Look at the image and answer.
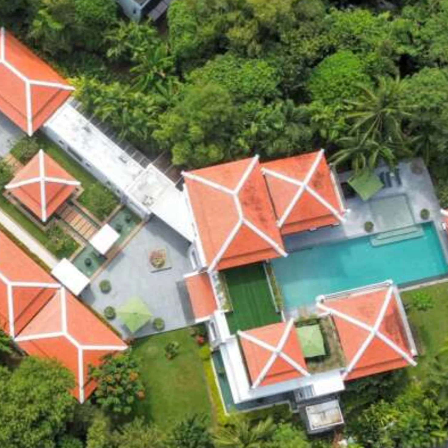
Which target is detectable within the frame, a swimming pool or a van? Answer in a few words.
swimming pool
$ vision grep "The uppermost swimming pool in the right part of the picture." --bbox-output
[368,192,416,232]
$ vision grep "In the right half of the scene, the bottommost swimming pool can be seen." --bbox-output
[267,217,448,316]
